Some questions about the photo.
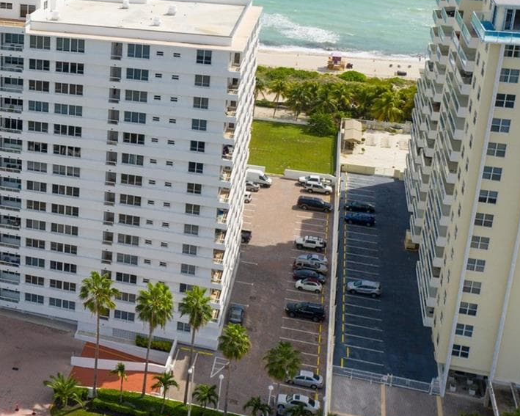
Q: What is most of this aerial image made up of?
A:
buildings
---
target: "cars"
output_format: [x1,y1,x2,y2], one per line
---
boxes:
[300,198,330,213]
[241,229,255,244]
[294,259,329,274]
[346,201,376,214]
[296,277,323,293]
[244,191,258,205]
[245,181,266,194]
[277,392,321,415]
[285,370,324,391]
[287,303,325,323]
[296,251,329,266]
[294,235,326,253]
[304,183,333,197]
[345,212,377,228]
[347,280,384,298]
[228,303,245,324]
[292,268,328,282]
